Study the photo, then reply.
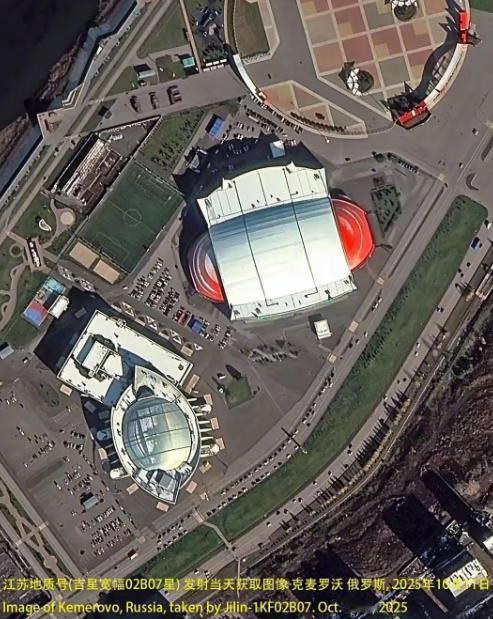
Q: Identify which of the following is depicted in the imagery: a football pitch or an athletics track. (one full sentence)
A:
Visible in the photo is a football pitch.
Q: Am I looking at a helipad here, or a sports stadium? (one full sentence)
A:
I can see a sports stadium in this picture.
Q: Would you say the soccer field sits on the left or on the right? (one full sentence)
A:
It is on the left.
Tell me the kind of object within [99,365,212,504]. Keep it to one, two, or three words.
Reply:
building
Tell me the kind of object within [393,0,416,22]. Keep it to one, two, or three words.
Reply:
fountain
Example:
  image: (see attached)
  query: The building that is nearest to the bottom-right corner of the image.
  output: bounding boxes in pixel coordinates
[446,560,486,598]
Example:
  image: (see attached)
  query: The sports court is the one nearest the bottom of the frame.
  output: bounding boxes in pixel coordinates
[23,276,65,326]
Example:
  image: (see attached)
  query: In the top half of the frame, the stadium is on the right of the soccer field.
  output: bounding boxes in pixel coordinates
[188,161,374,320]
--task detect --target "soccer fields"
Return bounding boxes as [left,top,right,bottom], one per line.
[79,159,185,274]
